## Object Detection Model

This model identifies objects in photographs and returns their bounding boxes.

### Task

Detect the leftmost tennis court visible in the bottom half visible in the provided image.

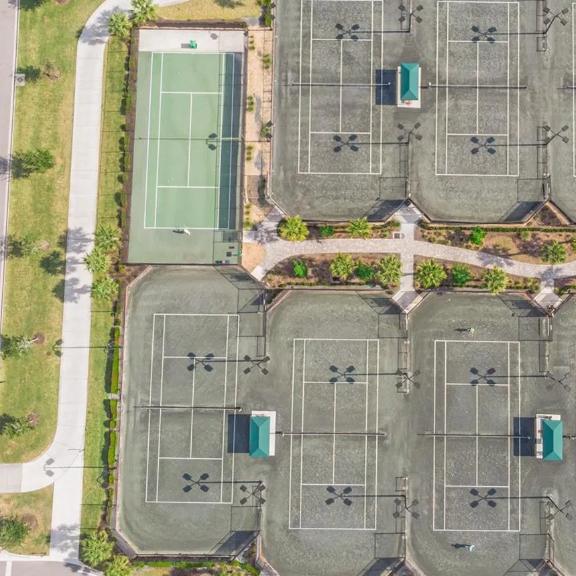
[116,265,266,555]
